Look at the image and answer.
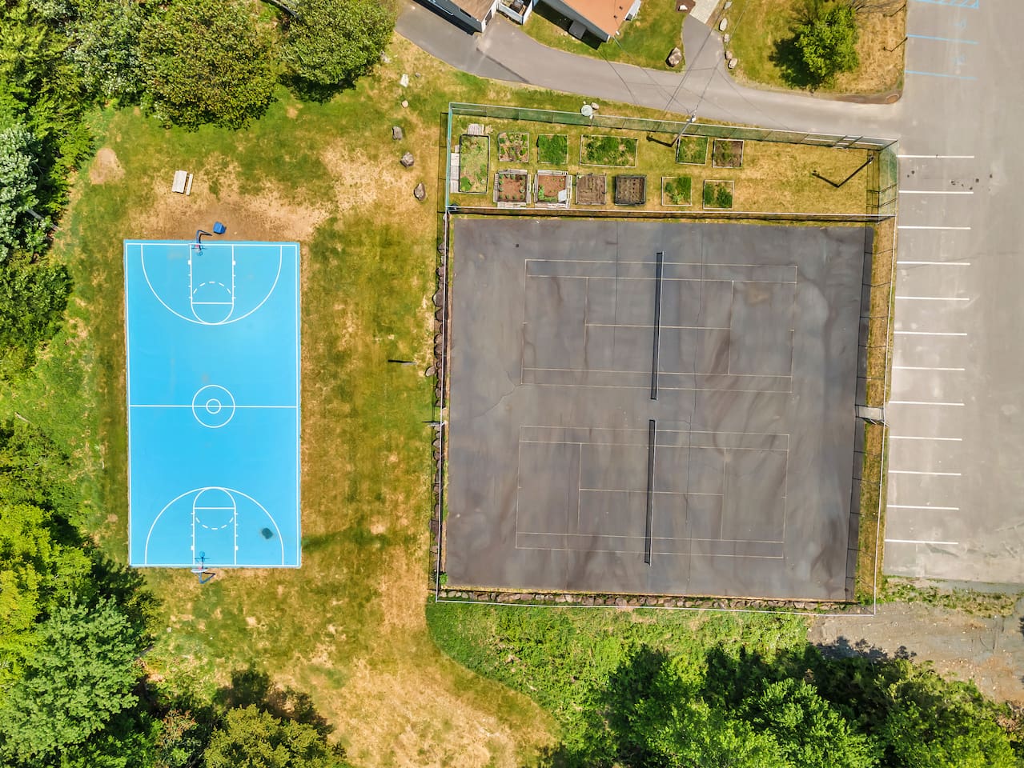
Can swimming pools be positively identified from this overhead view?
No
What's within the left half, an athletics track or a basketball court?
basketball court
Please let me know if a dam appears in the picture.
No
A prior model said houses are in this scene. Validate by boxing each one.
[423,0,498,33]
[538,0,647,42]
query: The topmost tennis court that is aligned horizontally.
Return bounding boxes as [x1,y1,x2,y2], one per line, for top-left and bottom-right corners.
[449,219,873,422]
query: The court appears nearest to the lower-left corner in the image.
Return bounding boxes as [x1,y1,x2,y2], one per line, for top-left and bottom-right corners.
[124,240,302,568]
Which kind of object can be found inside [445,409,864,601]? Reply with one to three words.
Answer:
tennis court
